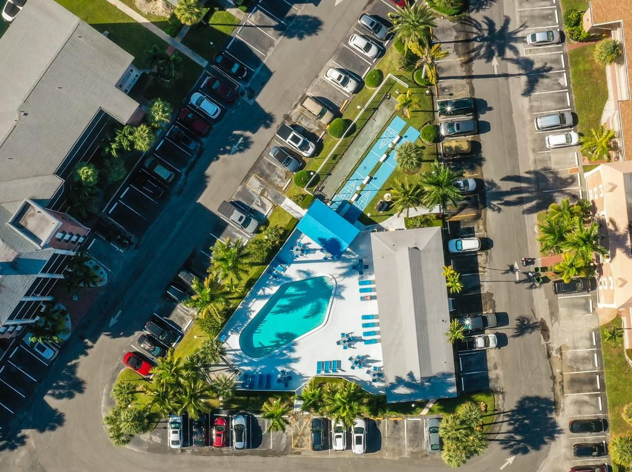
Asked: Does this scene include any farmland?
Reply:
No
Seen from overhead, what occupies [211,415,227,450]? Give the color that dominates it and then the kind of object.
red car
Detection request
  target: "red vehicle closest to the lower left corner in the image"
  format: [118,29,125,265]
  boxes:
[122,349,153,378]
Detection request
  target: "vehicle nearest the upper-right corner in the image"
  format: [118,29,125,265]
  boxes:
[525,29,561,47]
